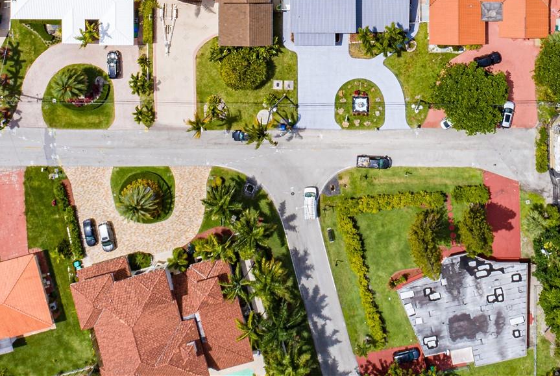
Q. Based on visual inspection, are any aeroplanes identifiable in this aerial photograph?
No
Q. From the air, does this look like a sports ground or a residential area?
residential area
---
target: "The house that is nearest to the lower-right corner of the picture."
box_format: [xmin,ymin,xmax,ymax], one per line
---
[397,248,532,367]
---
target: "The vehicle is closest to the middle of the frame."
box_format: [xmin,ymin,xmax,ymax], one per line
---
[303,183,318,221]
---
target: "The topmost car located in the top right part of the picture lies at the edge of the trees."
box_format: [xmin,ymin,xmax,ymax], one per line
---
[472,51,501,67]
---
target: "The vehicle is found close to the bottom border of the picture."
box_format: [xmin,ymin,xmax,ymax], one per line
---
[391,346,420,363]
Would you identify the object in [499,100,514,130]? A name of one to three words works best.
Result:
car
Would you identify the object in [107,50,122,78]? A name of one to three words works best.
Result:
car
